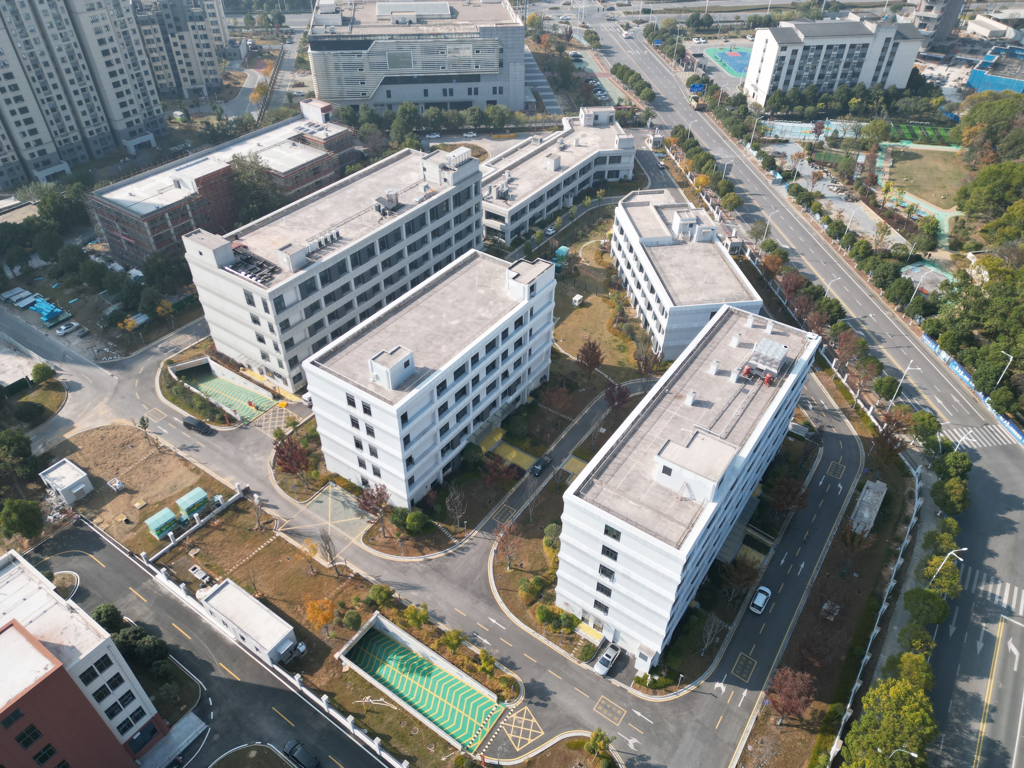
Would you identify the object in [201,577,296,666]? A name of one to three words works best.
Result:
building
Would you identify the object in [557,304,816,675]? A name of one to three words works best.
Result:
building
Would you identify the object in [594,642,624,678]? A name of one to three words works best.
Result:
car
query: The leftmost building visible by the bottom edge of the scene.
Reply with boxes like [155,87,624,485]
[0,532,216,768]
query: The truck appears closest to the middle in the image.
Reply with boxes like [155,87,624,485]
[530,451,556,477]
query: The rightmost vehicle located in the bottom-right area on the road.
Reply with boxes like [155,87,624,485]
[749,587,774,618]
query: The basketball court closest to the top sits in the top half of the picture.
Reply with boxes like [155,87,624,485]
[705,47,755,77]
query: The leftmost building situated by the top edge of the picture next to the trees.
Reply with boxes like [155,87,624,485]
[0,0,168,193]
